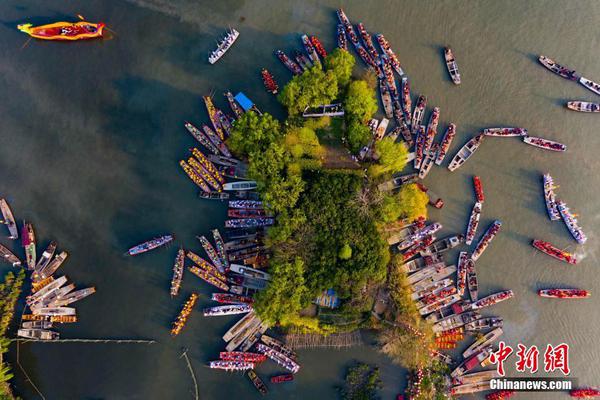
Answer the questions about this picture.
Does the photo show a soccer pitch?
No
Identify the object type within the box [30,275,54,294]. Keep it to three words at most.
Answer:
boat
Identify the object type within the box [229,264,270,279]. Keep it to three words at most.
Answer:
boat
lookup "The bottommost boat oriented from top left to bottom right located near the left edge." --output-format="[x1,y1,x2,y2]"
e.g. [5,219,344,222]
[0,243,22,264]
